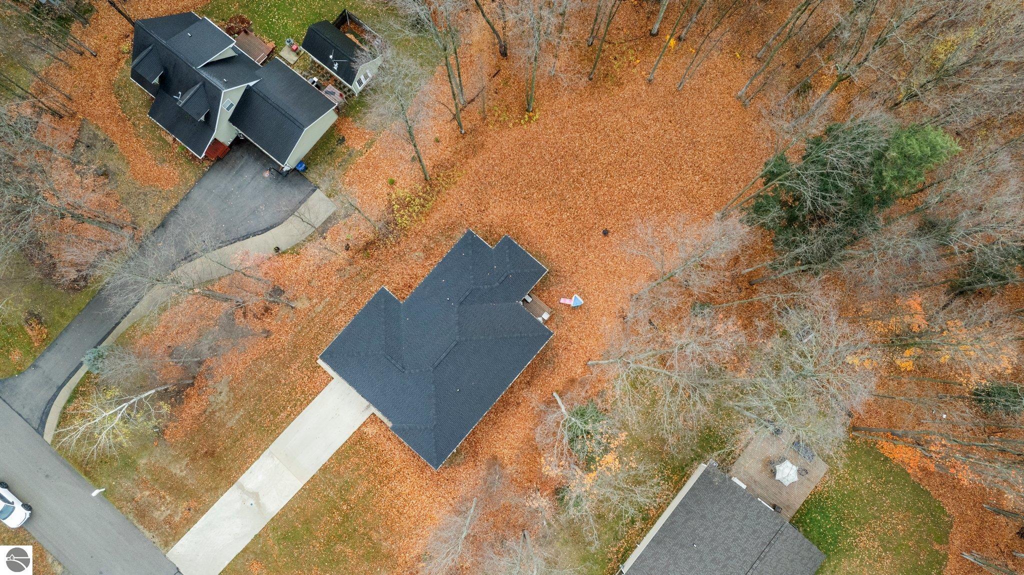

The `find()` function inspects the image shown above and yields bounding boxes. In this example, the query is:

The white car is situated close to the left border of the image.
[0,483,32,528]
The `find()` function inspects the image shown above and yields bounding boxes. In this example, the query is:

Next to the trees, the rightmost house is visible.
[617,458,825,575]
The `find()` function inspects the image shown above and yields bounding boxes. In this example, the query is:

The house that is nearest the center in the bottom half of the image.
[317,227,555,471]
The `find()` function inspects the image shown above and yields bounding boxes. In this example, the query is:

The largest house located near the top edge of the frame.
[128,11,340,170]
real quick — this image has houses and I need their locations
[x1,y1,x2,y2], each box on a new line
[617,458,825,575]
[128,11,340,170]
[317,227,555,471]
